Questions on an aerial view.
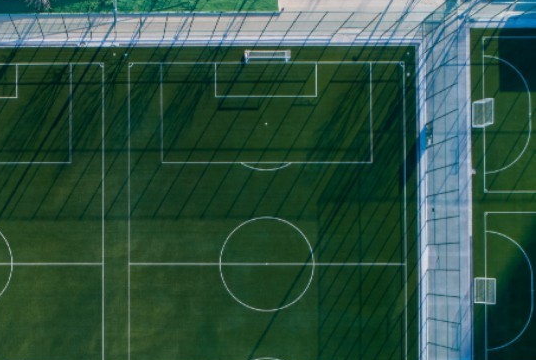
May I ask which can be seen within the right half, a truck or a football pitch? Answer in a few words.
football pitch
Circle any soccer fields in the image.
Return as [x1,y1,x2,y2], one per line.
[0,48,116,360]
[116,46,418,360]
[471,26,536,202]
[472,202,536,360]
